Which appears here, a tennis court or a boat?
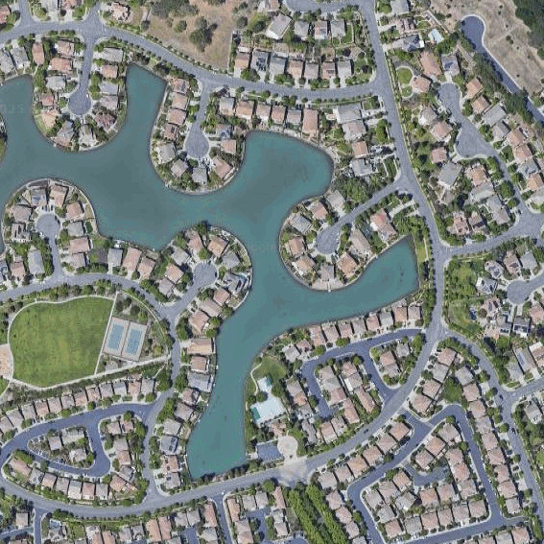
tennis court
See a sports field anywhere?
Yes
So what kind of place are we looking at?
residential area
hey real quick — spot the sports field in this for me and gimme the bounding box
[9,299,113,388]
